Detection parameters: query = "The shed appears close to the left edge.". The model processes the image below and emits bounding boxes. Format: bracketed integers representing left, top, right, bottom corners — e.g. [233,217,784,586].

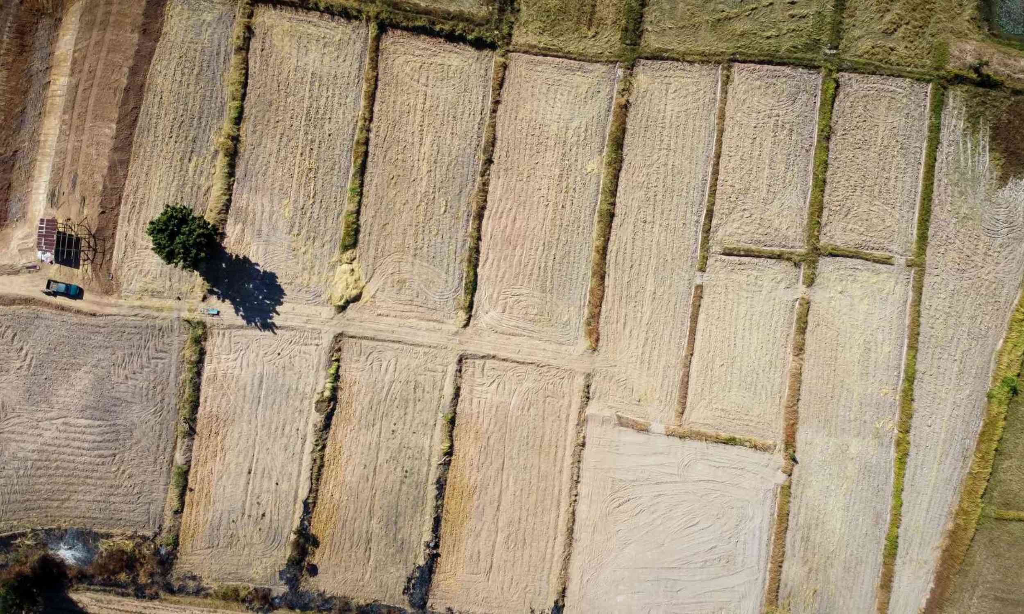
[37,219,92,267]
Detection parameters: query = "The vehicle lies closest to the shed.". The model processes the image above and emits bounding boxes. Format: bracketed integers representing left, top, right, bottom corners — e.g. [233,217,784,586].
[40,279,81,297]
